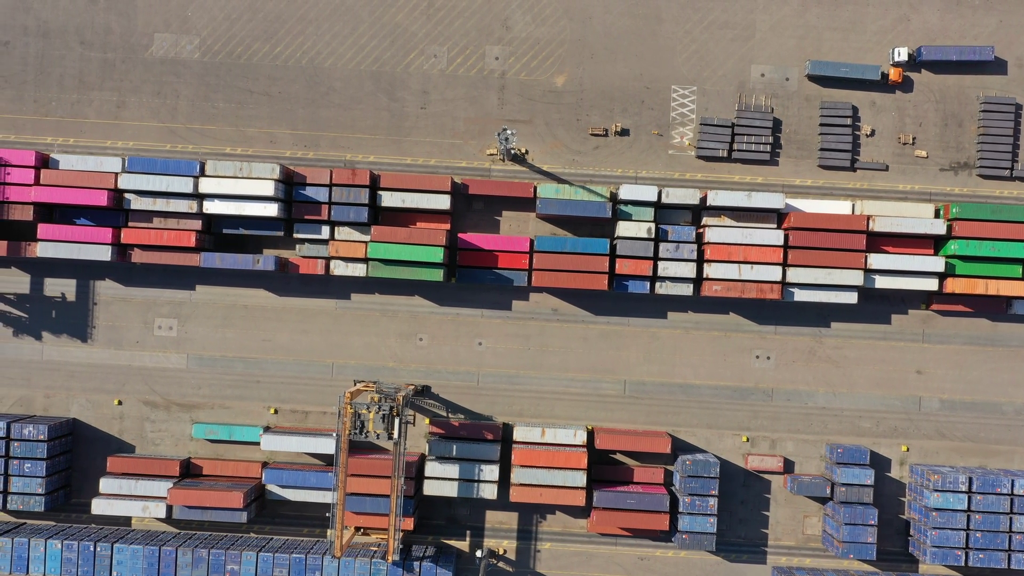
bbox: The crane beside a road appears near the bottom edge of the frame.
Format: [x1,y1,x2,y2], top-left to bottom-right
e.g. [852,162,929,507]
[327,376,441,565]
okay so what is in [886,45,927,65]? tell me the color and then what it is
white vehicle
